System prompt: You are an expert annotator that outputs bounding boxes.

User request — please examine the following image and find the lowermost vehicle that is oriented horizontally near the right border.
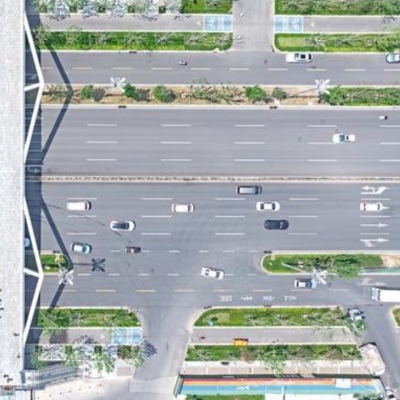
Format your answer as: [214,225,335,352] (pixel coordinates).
[362,287,400,303]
